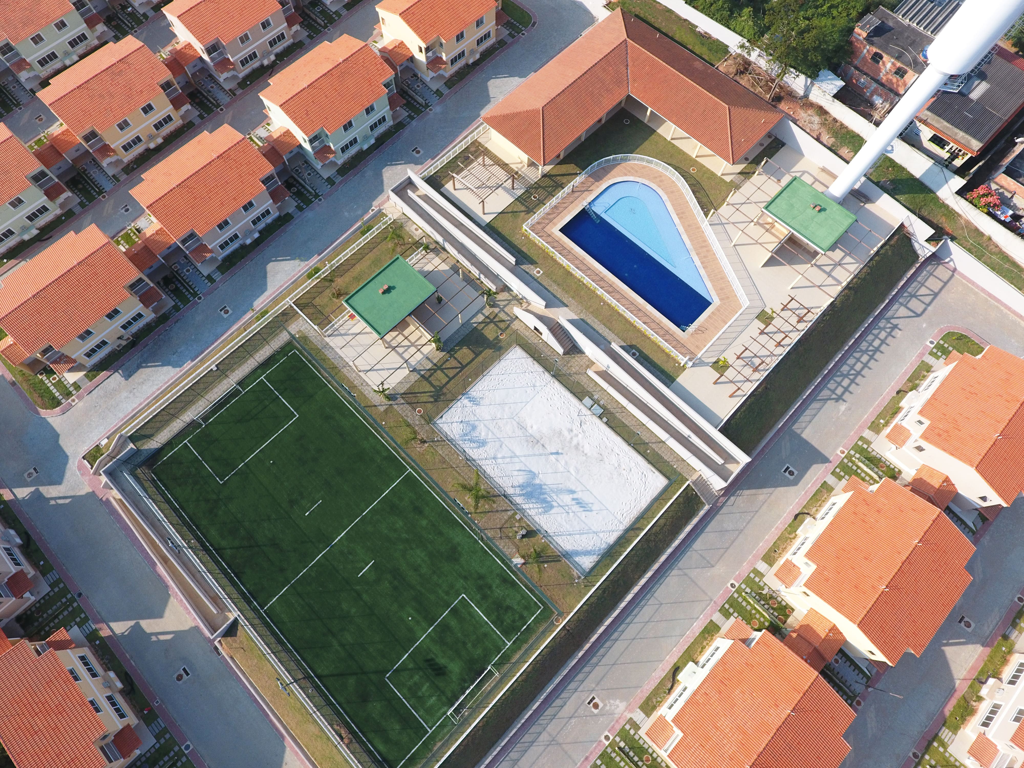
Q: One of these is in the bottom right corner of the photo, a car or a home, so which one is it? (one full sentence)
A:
There is a home in the bottom right corner of the photo.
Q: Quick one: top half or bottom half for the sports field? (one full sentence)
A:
The sports field sits in the bottom half of the picture.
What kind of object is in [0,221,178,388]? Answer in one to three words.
house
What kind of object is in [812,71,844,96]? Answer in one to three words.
shed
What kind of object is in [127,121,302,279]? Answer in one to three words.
house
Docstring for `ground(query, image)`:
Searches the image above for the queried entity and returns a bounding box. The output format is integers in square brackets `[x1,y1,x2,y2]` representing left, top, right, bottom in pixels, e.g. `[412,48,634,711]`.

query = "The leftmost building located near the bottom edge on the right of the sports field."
[633,608,860,768]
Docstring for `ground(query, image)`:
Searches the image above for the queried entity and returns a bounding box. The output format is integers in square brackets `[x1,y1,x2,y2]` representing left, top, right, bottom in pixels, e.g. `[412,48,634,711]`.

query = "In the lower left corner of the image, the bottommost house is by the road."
[0,621,165,768]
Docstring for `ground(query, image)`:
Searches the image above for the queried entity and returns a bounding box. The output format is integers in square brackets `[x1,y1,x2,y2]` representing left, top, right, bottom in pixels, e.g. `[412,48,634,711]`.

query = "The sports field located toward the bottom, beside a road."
[135,340,557,768]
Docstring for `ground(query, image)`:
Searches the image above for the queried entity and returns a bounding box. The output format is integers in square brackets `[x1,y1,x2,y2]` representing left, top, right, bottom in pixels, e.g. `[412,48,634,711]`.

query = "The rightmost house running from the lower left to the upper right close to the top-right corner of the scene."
[902,45,1024,172]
